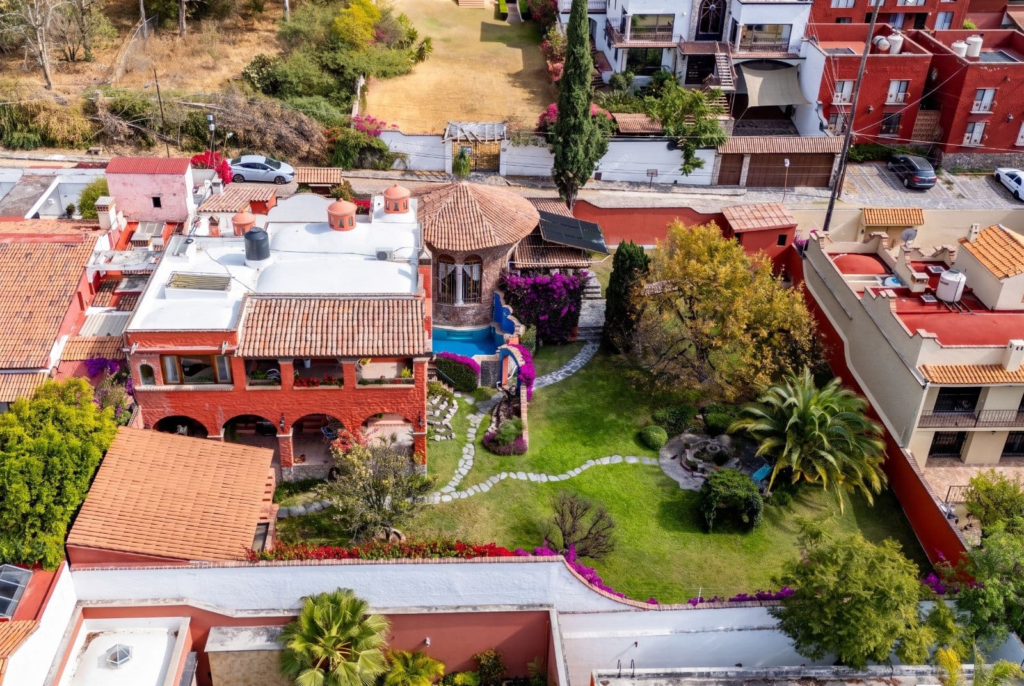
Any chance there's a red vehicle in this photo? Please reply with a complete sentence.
No, I can't see a single red vehicle in this photo.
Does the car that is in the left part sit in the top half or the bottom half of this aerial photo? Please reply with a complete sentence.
You can find the car that is in the left part in the top half.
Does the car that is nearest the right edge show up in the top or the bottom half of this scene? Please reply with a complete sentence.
It is in the top half that the car that is nearest the right edge appears.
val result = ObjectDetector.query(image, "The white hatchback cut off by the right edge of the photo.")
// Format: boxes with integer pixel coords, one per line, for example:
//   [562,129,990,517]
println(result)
[989,168,1024,194]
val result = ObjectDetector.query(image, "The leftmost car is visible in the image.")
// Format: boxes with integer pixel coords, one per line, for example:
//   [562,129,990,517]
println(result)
[229,158,296,185]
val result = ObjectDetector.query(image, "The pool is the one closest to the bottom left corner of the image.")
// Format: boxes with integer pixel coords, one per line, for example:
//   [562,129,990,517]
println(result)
[430,321,507,389]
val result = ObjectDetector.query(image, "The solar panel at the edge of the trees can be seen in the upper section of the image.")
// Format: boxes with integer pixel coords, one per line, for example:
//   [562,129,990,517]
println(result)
[538,211,608,314]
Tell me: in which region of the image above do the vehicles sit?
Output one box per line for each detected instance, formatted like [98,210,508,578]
[229,158,296,185]
[882,153,940,184]
[989,168,1024,194]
